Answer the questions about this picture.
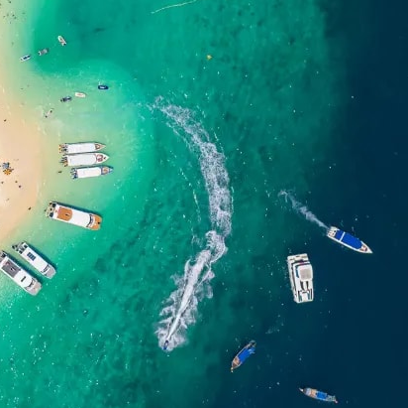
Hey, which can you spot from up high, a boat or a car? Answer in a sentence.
The one in the frame is a boat.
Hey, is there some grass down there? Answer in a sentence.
No, there's no grass in this view.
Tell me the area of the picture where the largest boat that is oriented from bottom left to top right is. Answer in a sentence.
Look in the bottom portion of the view to spot the largest boat that is oriented from bottom left to top right.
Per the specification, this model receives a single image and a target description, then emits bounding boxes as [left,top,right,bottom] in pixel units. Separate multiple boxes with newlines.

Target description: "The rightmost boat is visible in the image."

[323,224,373,253]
